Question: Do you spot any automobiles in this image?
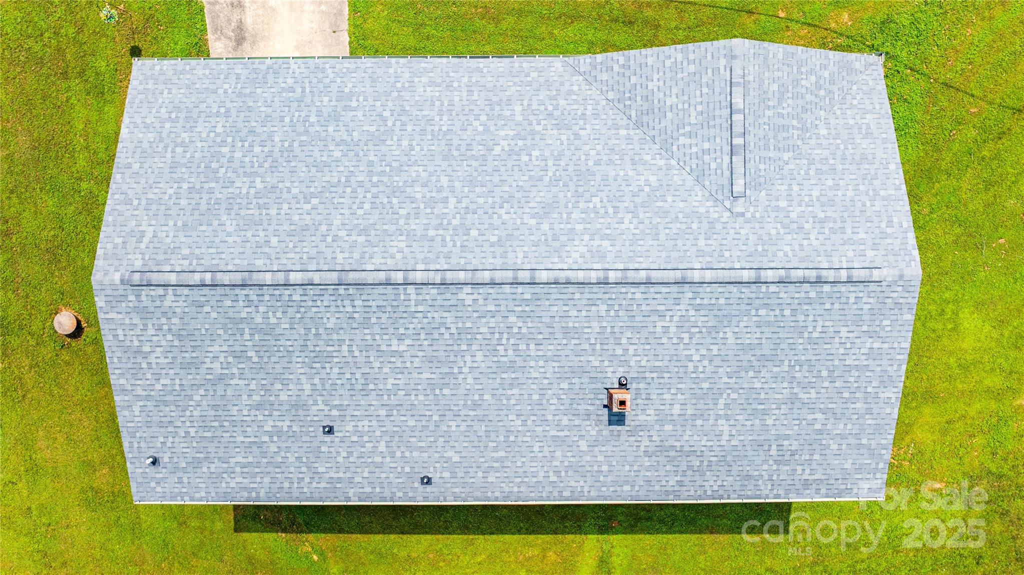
No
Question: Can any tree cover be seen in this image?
No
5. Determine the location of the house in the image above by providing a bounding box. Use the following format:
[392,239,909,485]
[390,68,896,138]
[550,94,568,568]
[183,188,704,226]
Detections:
[92,37,923,505]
